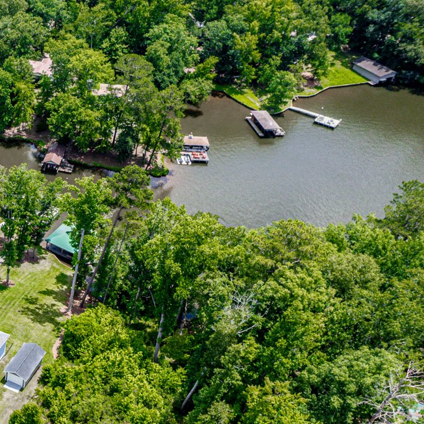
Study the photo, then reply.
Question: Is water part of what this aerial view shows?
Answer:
Yes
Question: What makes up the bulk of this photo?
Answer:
trees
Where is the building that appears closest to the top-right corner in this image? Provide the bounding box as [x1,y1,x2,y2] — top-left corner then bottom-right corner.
[353,54,412,86]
